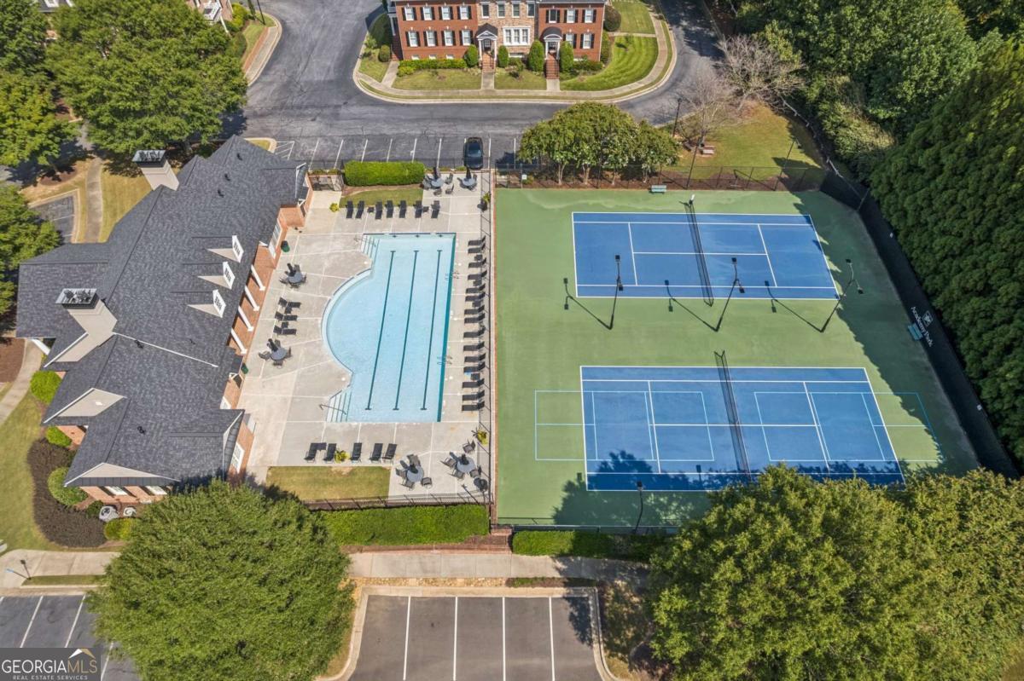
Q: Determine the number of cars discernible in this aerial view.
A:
one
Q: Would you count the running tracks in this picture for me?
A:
0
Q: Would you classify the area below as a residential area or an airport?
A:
residential area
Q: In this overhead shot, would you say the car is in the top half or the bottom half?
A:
top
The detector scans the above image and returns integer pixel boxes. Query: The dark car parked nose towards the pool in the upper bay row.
[462,135,484,168]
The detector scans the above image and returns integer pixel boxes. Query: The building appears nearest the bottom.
[14,135,315,501]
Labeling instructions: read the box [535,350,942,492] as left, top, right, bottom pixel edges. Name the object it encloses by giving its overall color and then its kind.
blue tennis court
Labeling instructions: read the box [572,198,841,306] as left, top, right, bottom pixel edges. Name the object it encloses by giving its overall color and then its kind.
blue tennis court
